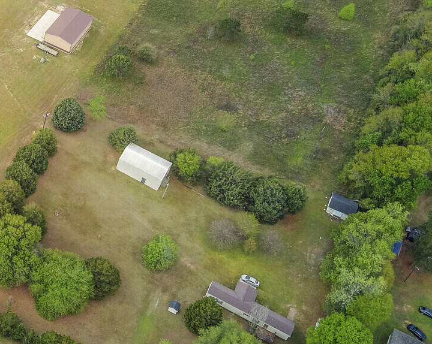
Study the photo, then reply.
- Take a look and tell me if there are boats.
No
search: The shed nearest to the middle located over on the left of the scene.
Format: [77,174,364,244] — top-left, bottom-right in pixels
[116,144,170,191]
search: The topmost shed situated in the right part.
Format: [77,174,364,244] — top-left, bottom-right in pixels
[325,194,360,224]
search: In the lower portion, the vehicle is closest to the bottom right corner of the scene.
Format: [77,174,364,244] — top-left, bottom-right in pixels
[406,324,430,343]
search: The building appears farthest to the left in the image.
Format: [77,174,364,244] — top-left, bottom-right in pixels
[43,7,92,54]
